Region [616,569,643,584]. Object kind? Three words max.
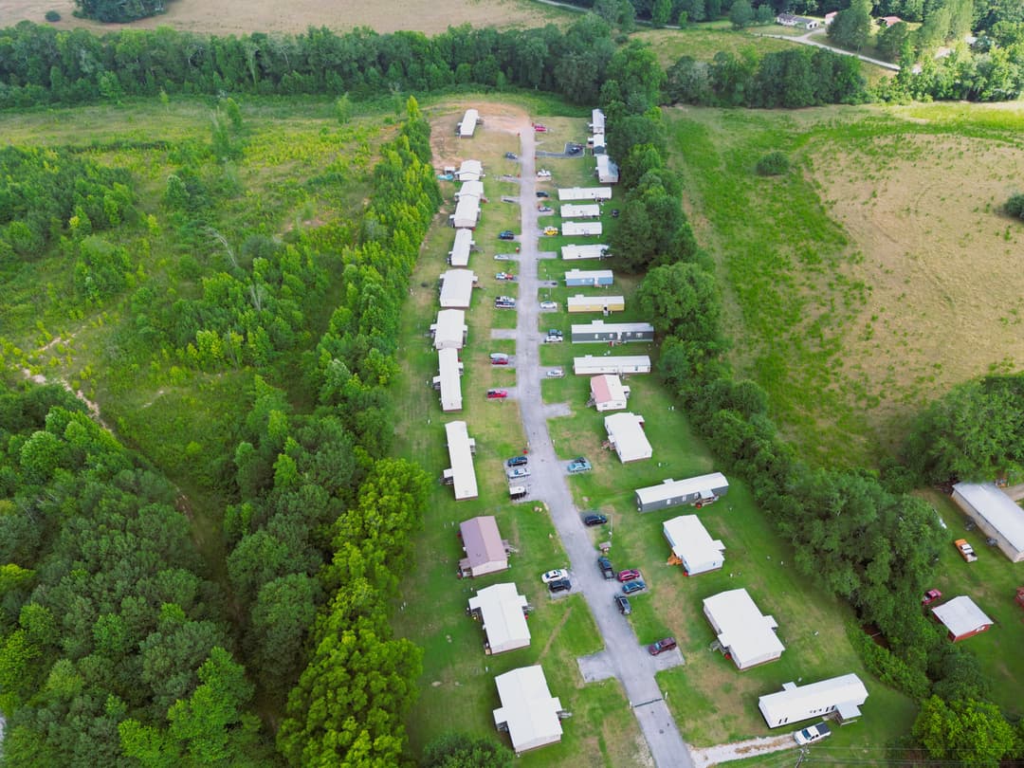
car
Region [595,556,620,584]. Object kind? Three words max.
truck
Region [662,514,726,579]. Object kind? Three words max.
house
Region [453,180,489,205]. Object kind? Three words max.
house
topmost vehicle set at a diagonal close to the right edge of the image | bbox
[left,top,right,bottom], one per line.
[950,538,983,564]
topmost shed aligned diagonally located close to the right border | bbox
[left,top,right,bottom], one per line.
[949,478,1024,561]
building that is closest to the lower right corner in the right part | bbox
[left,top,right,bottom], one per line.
[928,596,994,643]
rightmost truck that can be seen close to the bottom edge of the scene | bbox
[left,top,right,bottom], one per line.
[794,721,834,744]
